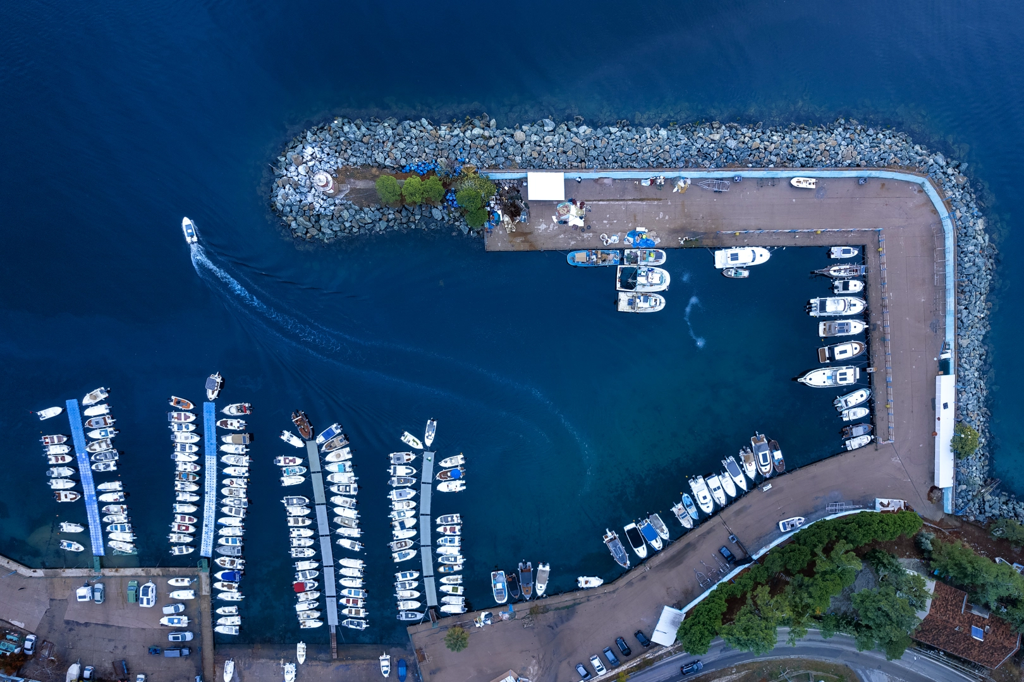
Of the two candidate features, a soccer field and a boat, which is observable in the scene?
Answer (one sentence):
Visible in the photo is a boat.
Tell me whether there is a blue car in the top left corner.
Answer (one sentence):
No, I can find no blue car in the top left corner.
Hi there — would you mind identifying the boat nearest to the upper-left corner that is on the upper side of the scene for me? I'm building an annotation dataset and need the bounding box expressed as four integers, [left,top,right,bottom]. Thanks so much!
[183,217,198,249]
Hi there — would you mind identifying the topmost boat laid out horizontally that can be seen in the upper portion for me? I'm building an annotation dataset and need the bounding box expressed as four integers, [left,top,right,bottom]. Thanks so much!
[790,177,822,189]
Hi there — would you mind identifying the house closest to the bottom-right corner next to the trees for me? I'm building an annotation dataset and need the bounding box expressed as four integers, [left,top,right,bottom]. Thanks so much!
[900,570,1019,670]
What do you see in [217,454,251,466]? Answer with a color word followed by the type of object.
white boat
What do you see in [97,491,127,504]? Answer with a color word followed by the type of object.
white boat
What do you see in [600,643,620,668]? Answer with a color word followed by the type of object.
blue car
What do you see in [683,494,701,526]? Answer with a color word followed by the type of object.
blue boat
